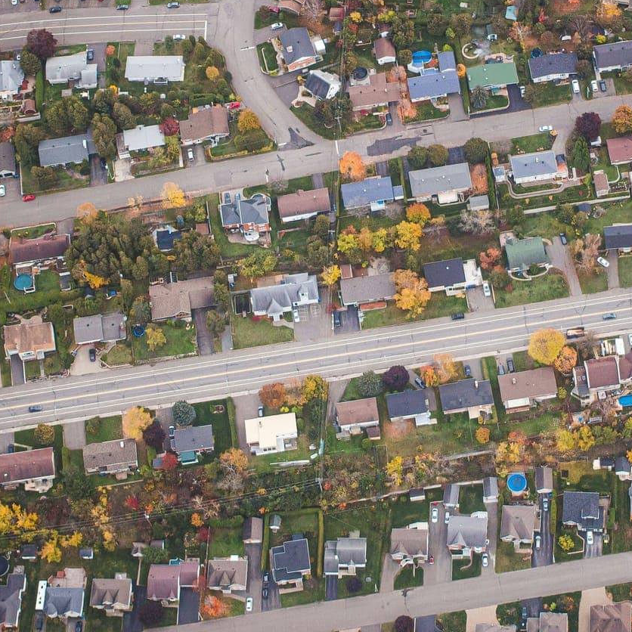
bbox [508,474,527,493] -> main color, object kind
blue swimming pool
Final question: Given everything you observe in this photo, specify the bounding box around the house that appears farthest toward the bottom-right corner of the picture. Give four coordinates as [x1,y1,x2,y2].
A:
[588,600,631,632]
